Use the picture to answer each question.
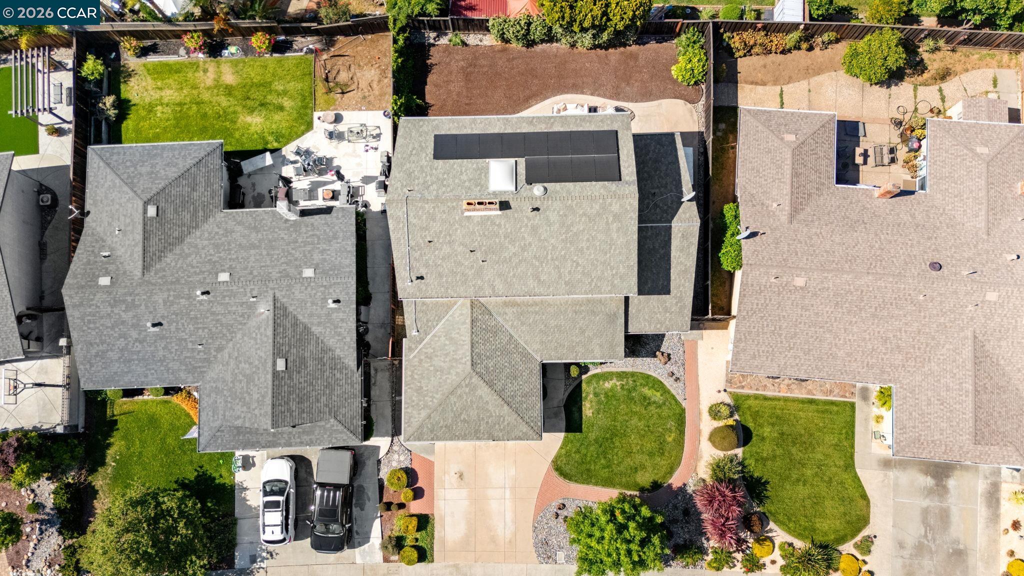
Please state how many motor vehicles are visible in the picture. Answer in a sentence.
I count 2 motor vehicles.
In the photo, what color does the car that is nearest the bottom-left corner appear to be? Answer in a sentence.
The car that is nearest the bottom-left corner looks white in the image.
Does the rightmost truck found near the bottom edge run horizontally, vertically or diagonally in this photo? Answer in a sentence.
The rightmost truck found near the bottom edge is laid out vertically.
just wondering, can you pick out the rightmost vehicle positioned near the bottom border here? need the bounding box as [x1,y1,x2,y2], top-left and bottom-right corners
[308,447,357,555]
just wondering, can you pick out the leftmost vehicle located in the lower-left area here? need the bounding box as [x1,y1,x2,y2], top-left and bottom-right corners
[256,457,299,547]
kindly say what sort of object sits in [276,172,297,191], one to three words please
umbrella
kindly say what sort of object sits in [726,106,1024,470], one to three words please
house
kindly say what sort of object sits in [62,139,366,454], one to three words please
house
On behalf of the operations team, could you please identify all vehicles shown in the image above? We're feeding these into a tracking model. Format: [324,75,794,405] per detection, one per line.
[256,457,299,547]
[308,447,357,555]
